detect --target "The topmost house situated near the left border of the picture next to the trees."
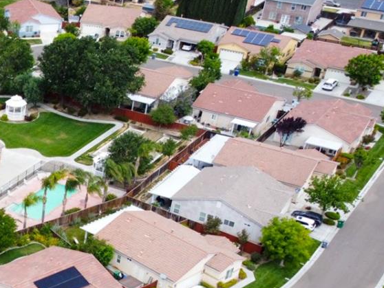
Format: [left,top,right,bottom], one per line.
[5,0,74,34]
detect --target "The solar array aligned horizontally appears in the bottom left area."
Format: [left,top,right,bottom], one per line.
[34,267,82,288]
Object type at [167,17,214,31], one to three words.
solar array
